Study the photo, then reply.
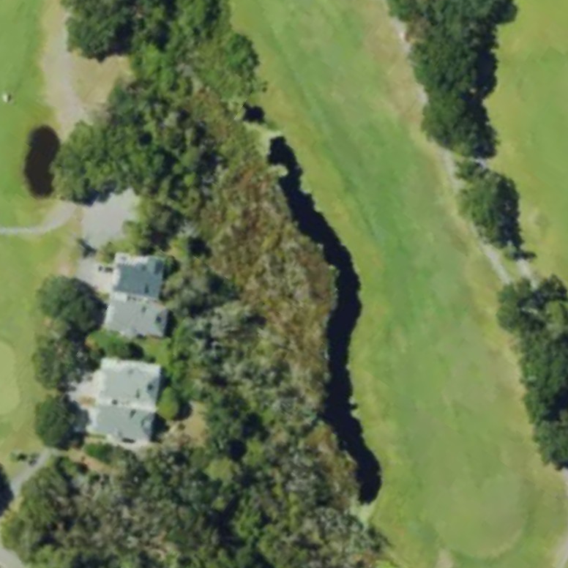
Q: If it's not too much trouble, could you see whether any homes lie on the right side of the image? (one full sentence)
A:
No, the scene shows no home on the right side of the image.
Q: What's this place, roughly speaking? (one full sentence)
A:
This looks like a golf course.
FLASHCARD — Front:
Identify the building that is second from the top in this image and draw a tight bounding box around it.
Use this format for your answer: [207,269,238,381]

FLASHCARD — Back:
[104,302,168,339]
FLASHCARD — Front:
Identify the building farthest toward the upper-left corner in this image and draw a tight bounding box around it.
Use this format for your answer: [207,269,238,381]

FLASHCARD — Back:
[107,254,165,303]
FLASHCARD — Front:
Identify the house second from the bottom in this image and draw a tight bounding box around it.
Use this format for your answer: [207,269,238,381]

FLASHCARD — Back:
[96,358,161,409]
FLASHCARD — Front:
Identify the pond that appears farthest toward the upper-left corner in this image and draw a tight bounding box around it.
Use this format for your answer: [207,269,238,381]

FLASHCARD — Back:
[25,125,61,198]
